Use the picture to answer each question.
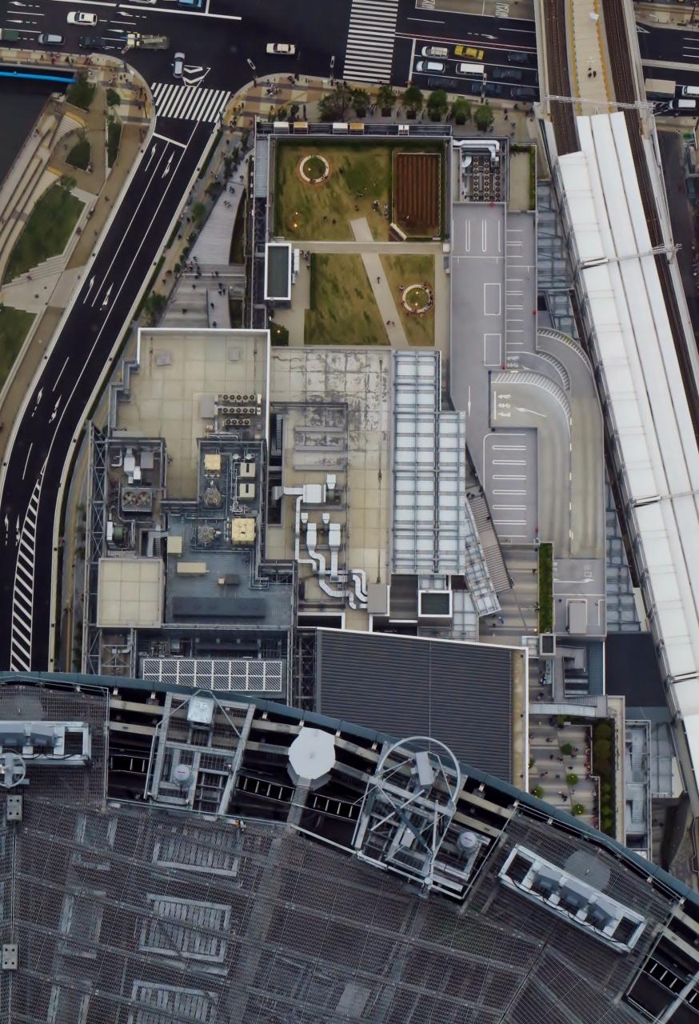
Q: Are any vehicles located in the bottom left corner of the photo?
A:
No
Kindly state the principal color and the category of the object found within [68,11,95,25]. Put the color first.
white car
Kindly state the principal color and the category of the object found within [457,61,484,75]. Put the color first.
white vehicle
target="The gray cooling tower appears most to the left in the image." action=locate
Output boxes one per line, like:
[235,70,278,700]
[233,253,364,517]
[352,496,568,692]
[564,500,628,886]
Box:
[122,487,154,515]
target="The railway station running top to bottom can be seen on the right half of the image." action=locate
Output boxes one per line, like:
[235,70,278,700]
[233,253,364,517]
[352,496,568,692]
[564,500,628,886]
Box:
[538,0,699,797]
